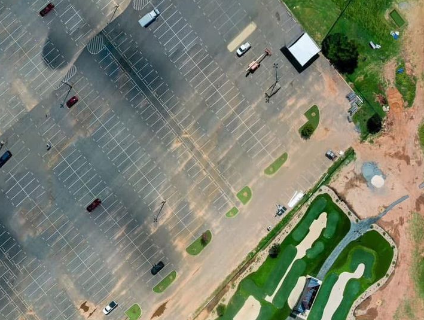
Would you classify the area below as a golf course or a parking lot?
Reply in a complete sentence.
This looks like a parking lot.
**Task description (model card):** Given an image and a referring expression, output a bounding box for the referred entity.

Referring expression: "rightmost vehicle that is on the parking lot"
[323,148,340,161]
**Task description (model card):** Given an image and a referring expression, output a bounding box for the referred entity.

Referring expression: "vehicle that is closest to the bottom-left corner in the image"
[101,299,119,316]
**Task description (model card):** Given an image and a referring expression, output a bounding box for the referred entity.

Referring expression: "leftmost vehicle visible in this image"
[0,150,12,167]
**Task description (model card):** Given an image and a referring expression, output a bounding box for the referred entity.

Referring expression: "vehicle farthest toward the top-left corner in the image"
[37,0,55,17]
